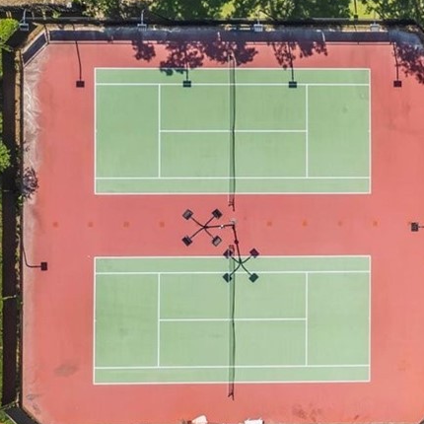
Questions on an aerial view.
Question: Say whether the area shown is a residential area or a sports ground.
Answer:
sports ground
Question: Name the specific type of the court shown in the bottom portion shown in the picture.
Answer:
tennis court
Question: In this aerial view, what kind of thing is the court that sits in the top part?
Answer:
tennis court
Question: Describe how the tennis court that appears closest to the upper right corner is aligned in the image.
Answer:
from left to right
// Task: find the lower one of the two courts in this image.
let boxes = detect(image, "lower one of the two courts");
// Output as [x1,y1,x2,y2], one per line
[93,256,370,385]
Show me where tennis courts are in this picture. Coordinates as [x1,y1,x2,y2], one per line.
[93,68,370,195]
[93,256,370,385]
